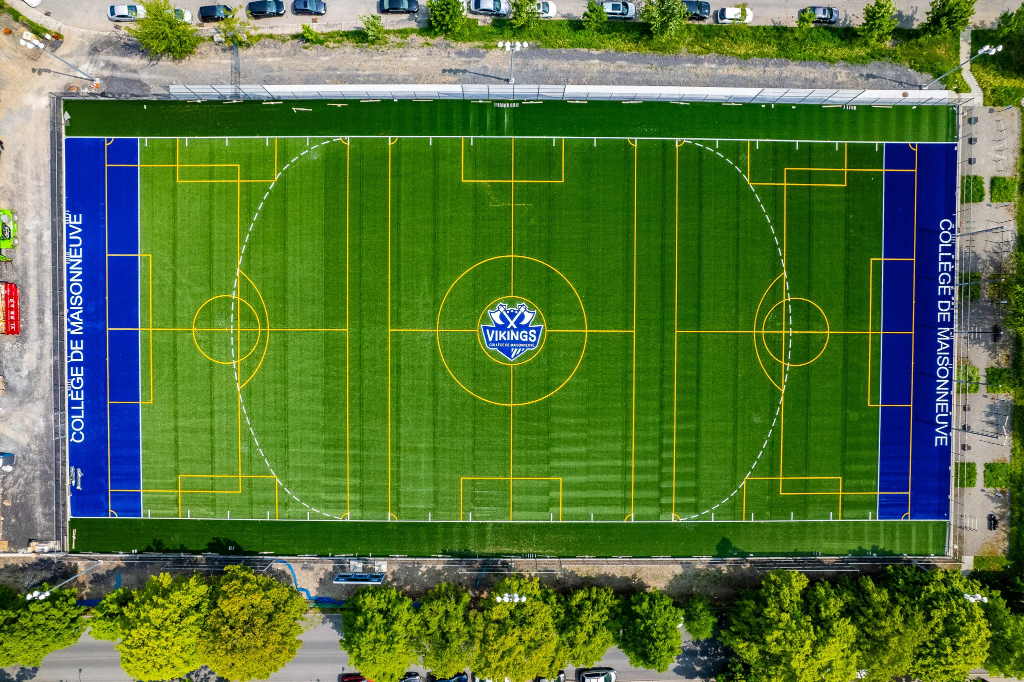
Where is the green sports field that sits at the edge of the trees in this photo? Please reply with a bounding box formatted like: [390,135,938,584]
[66,99,958,558]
